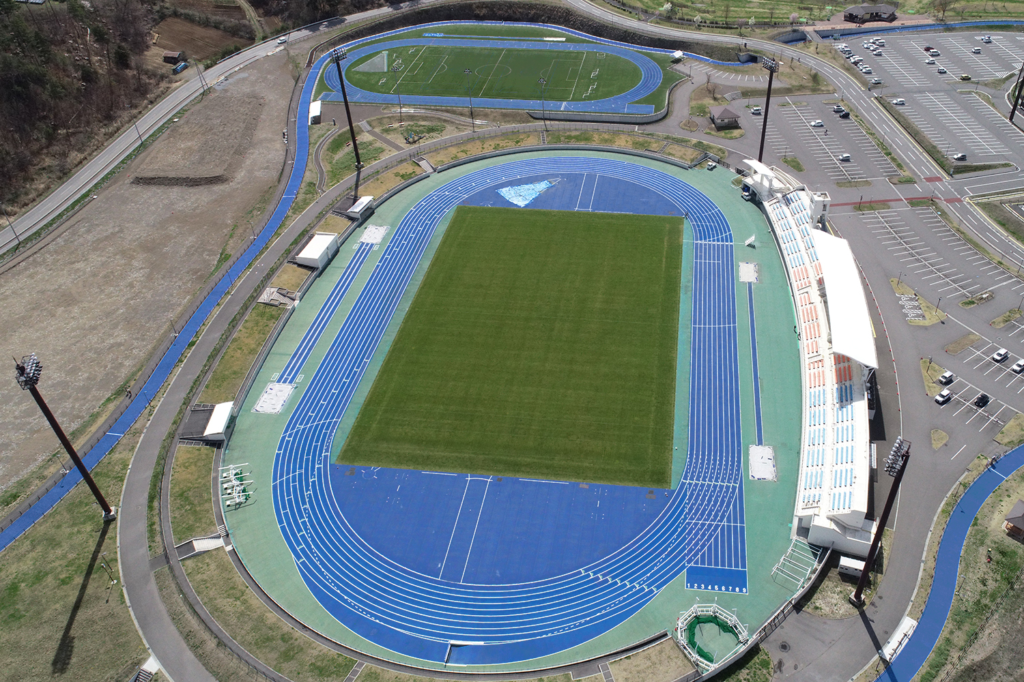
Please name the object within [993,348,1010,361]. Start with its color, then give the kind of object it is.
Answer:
white vehicle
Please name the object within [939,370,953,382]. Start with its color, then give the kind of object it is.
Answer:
white vehicle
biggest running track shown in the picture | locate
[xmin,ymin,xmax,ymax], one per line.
[224,148,827,676]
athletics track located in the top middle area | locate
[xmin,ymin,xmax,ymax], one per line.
[310,25,686,115]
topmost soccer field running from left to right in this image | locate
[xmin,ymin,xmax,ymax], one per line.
[347,45,643,101]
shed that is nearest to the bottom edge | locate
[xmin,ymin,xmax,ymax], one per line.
[837,556,866,579]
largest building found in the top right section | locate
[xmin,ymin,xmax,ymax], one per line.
[741,160,805,212]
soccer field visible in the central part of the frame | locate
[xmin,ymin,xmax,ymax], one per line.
[335,206,684,489]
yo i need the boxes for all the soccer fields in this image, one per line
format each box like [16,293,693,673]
[347,45,643,101]
[335,206,684,489]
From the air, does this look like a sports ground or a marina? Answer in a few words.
sports ground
